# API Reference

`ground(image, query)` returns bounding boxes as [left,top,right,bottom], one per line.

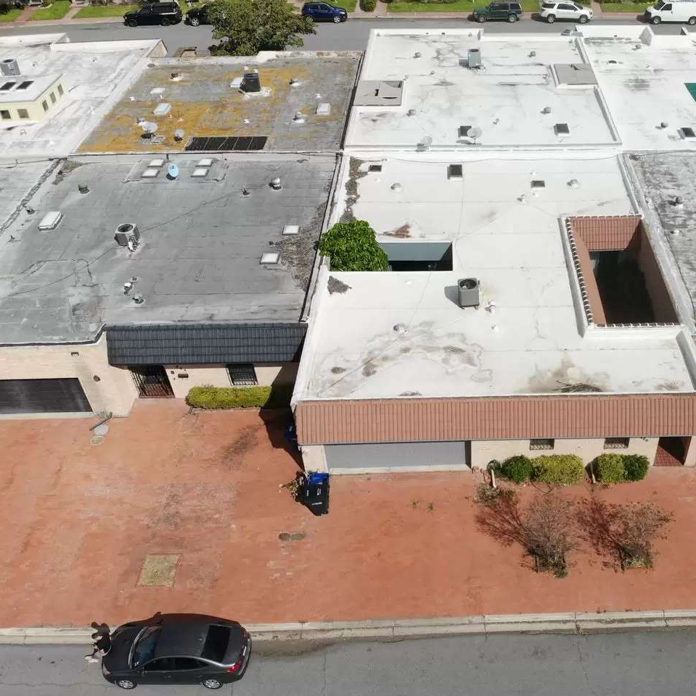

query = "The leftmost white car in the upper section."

[540,0,592,22]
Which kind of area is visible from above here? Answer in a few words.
residential area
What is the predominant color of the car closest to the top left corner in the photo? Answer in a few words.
black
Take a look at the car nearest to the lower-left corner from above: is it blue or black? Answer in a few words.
black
